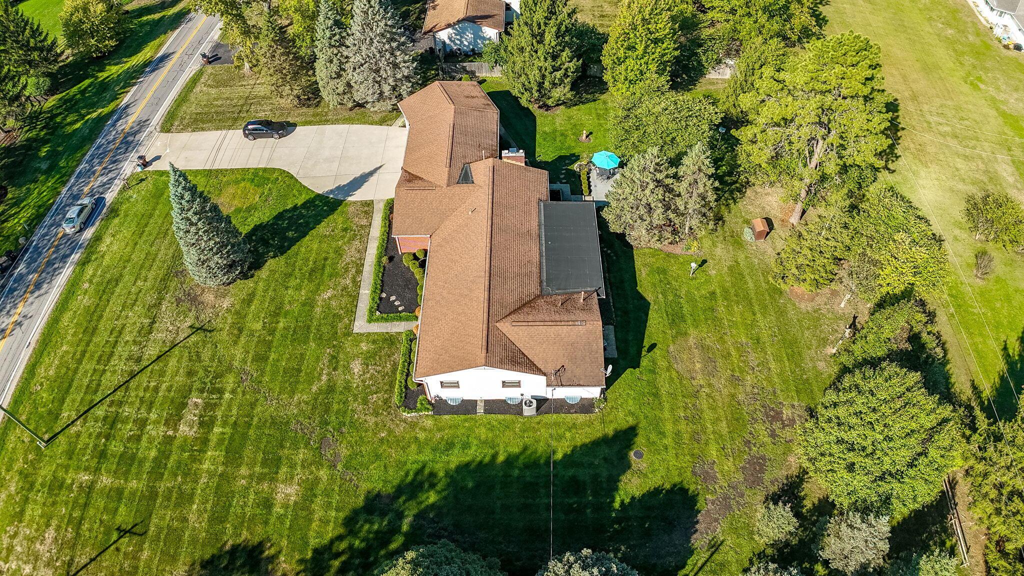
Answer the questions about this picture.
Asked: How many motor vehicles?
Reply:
2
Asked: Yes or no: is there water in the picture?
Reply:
No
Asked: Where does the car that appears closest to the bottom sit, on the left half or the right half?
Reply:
left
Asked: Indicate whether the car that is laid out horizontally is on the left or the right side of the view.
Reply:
left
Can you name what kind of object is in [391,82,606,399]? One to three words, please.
house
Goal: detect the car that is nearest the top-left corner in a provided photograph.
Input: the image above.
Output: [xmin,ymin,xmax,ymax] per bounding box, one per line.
[52,192,96,233]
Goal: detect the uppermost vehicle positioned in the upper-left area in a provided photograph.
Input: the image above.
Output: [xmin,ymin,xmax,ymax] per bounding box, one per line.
[237,117,286,140]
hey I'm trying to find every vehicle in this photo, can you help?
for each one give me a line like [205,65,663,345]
[52,192,96,233]
[237,117,286,140]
